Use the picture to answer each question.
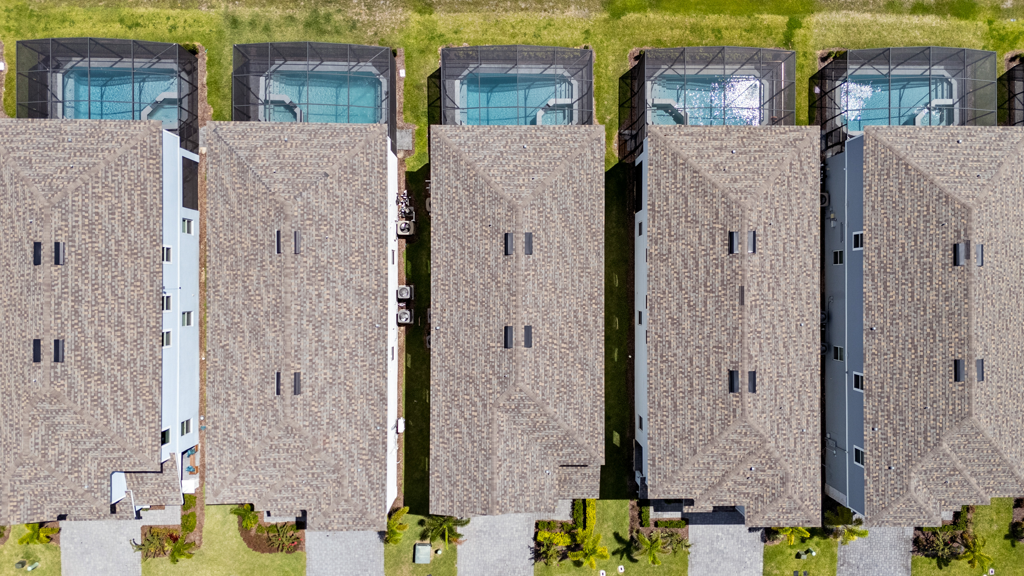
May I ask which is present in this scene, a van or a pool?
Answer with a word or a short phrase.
pool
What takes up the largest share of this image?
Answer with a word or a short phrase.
buildings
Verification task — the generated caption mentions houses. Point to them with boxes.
[430,125,605,518]
[206,122,400,531]
[0,120,200,525]
[634,126,821,527]
[824,126,1024,527]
